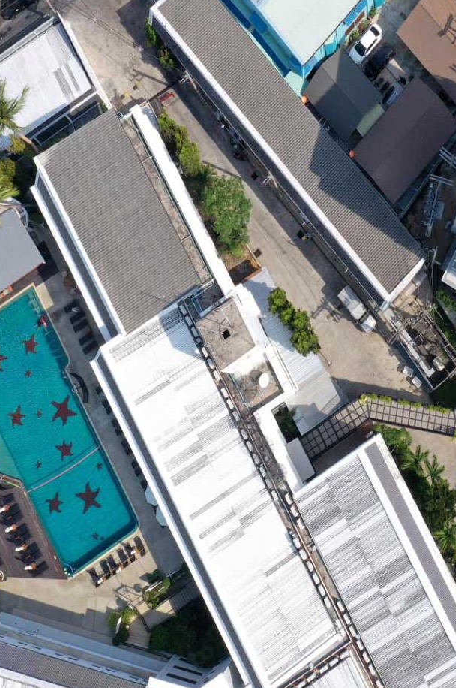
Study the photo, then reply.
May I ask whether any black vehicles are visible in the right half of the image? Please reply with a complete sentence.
Yes, a black vehicle can be seen in the right half of the image.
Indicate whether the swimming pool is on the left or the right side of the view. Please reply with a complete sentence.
You can find the swimming pool on the left side of the picture.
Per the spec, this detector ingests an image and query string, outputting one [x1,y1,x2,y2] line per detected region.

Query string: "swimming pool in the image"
[0,281,139,579]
